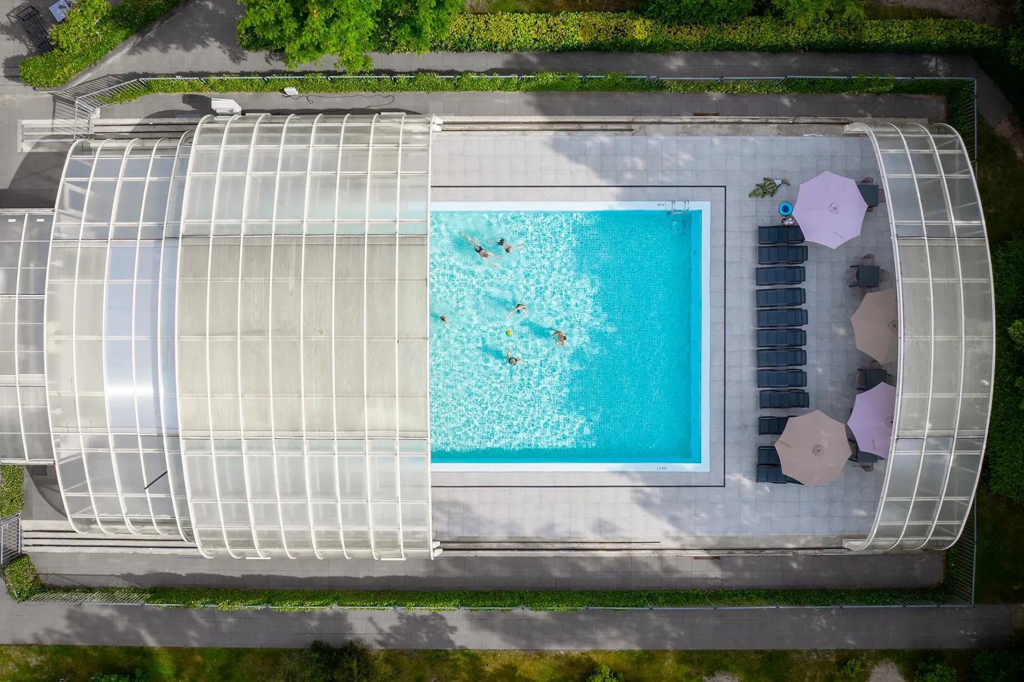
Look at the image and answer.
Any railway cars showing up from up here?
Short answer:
No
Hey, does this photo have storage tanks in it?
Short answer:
No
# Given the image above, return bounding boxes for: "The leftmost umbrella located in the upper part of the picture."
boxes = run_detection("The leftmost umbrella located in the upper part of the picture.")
[792,171,869,248]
